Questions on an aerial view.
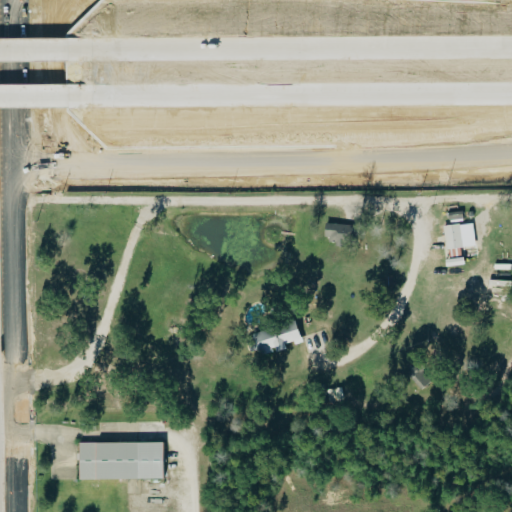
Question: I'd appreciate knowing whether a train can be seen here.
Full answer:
No, no train can be seen from above.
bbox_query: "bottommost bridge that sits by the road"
[0,83,86,108]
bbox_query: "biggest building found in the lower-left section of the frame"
[76,442,164,480]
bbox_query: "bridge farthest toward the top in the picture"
[0,36,86,62]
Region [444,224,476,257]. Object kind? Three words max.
house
